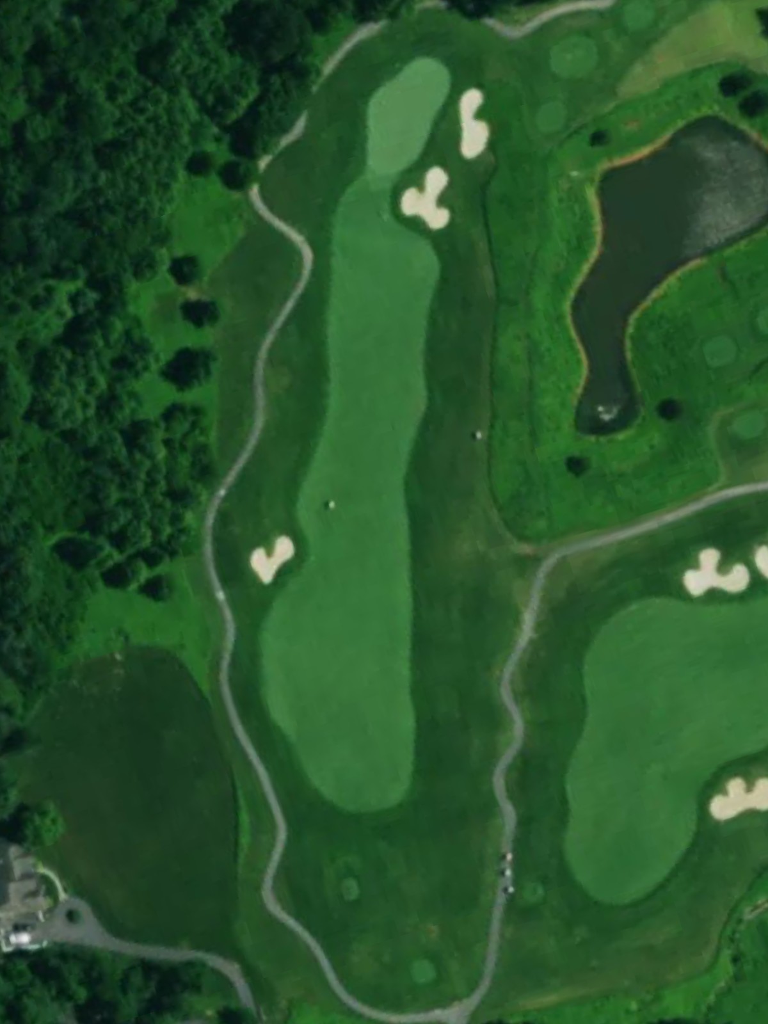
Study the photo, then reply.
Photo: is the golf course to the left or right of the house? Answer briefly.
to the right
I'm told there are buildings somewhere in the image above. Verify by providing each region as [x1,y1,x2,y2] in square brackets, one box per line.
[0,841,41,909]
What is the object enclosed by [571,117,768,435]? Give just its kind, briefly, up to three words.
pond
